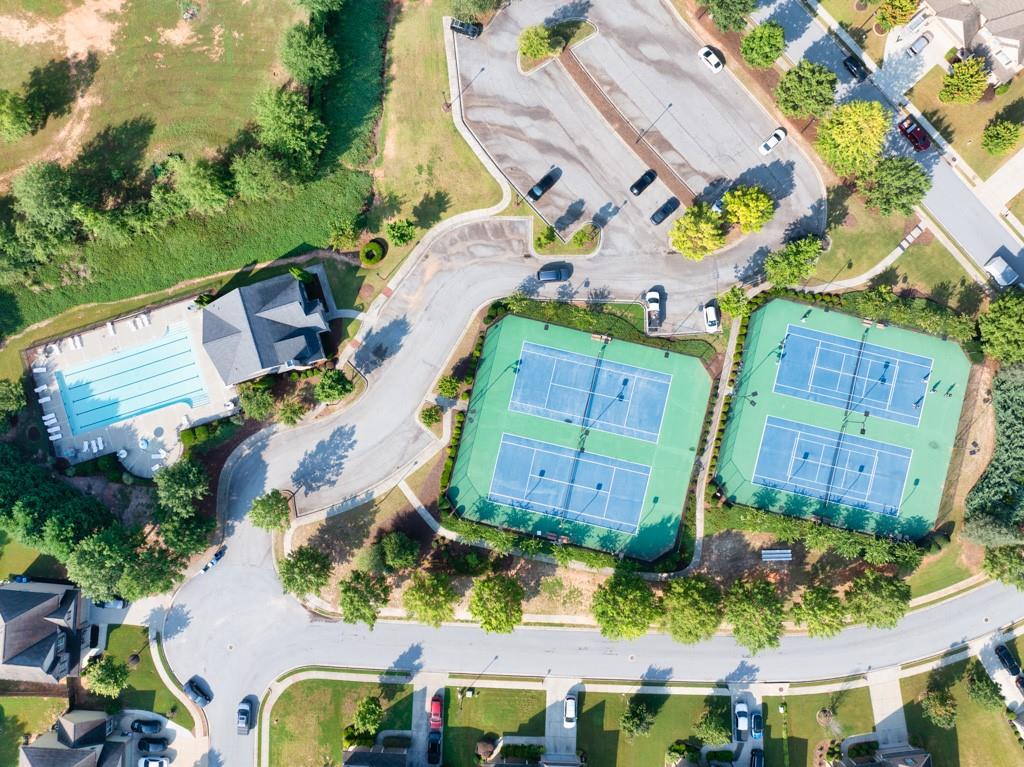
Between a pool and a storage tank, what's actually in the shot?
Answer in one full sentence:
Visible in the photo is a pool.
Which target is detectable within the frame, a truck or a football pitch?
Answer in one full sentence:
It is a truck that can be seen here.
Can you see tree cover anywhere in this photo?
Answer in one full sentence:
Yes, tree cover can be seen from above here.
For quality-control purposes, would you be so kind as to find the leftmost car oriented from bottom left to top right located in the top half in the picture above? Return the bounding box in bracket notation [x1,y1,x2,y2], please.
[529,172,556,200]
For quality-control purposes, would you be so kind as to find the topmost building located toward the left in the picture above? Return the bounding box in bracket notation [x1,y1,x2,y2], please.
[202,276,332,383]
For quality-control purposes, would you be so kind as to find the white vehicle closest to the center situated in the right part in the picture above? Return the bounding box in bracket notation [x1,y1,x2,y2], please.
[646,292,661,330]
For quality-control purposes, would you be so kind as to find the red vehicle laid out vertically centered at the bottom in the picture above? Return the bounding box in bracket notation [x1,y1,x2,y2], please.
[429,695,443,727]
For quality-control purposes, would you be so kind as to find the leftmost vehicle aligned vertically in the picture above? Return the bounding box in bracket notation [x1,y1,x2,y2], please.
[236,696,252,733]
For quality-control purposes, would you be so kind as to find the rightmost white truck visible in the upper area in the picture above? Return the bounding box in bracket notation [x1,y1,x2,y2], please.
[981,251,1018,287]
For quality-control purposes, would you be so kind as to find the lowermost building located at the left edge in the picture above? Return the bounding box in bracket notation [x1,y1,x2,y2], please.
[21,704,140,767]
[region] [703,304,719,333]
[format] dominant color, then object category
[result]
white car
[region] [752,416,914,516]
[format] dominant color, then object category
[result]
blue tennis court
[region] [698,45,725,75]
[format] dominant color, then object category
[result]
white car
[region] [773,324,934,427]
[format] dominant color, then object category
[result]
blue tennis court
